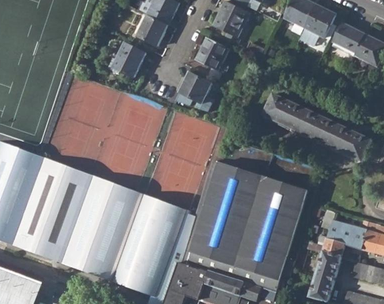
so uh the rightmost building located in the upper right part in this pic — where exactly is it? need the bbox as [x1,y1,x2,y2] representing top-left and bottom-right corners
[332,22,384,67]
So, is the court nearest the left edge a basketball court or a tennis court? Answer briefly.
tennis court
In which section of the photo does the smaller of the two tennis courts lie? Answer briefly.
center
